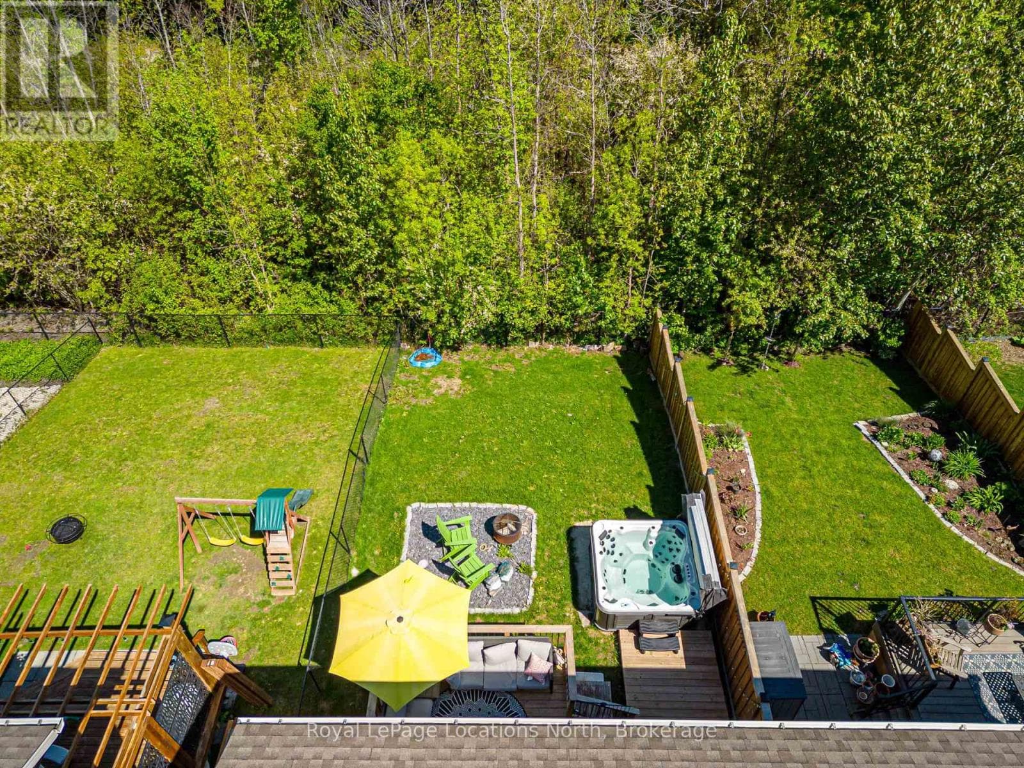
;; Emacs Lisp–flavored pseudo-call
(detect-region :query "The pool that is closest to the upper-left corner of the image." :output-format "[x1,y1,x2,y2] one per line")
[409,344,444,368]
